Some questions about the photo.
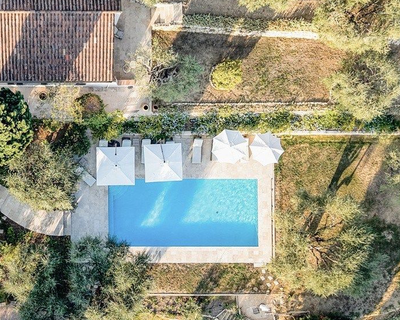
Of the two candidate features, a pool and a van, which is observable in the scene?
pool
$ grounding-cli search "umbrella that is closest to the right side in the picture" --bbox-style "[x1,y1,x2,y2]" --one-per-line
[250,130,284,165]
